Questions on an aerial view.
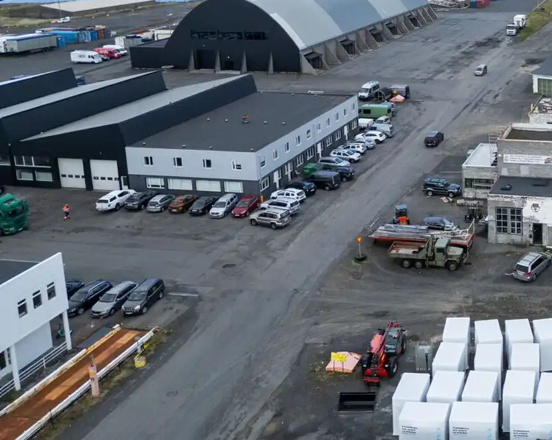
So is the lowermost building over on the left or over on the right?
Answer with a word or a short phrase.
left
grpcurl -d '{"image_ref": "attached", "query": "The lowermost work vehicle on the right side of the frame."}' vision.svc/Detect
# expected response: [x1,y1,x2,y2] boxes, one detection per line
[363,318,409,386]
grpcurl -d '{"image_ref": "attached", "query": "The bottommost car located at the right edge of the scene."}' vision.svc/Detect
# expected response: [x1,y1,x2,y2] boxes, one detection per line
[510,250,552,282]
